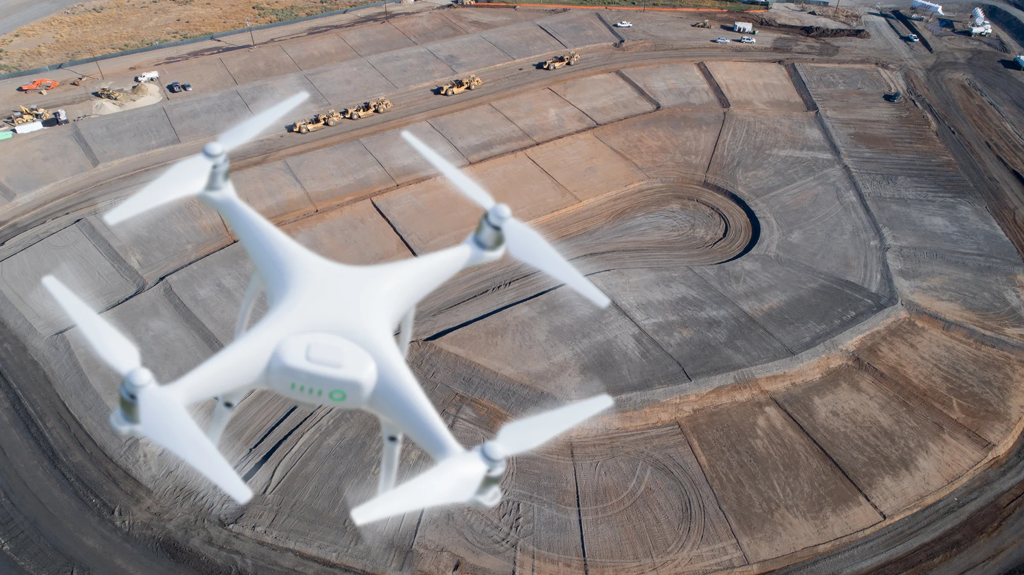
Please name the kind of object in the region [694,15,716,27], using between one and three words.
vehicle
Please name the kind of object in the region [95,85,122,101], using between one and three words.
work vehicle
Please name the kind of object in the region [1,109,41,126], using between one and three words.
work vehicle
